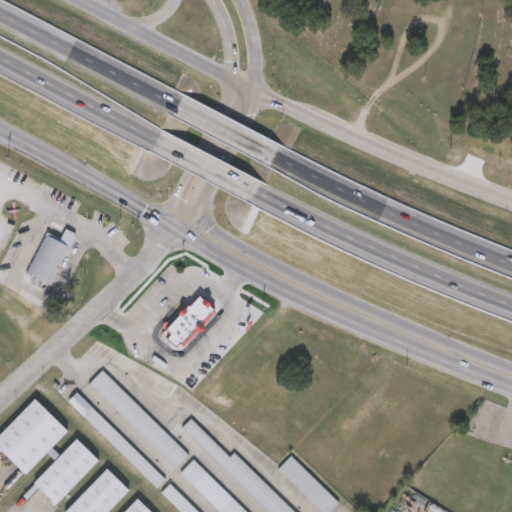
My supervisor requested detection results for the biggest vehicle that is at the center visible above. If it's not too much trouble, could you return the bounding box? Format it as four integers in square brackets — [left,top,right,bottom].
[284,208,313,225]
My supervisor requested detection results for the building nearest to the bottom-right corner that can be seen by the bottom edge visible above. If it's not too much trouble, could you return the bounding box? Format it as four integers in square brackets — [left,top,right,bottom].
[279,456,338,512]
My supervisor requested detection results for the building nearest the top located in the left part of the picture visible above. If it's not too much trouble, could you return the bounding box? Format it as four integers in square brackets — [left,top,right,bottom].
[27,228,76,284]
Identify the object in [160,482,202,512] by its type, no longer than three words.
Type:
building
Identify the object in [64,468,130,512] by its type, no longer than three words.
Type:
building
